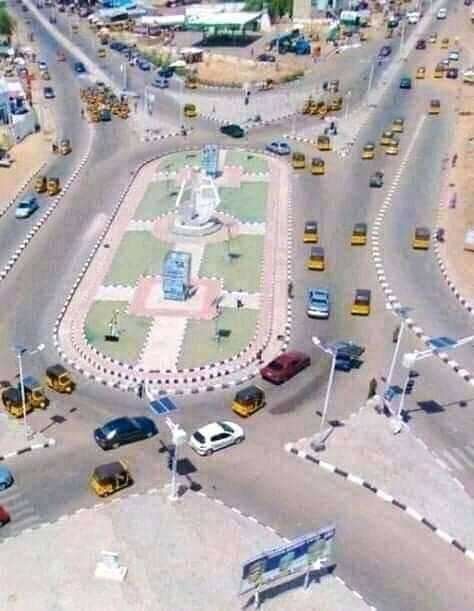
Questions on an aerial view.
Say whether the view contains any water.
No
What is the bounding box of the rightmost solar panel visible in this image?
[426,332,459,350]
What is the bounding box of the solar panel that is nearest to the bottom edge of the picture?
[146,391,178,413]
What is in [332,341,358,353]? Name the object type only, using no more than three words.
solar panel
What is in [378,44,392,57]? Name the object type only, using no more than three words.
vehicle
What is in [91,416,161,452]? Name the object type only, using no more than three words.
car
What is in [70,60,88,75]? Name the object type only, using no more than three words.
car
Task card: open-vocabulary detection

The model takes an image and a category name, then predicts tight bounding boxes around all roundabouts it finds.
[53,147,293,393]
